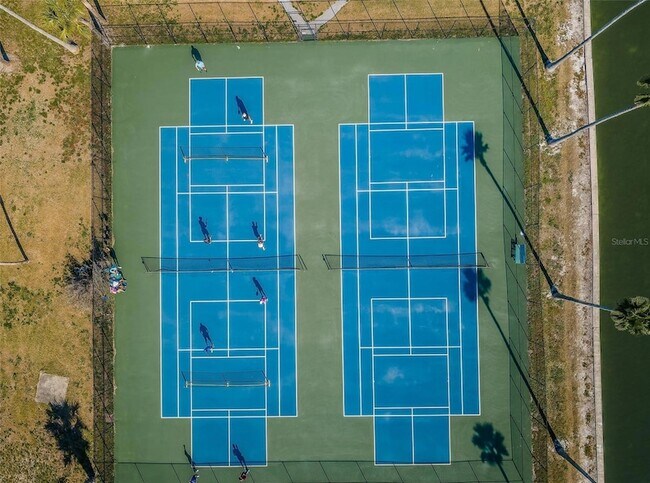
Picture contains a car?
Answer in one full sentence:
No, the scene contains no car.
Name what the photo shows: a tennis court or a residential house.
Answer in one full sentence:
There is a tennis court in the scene.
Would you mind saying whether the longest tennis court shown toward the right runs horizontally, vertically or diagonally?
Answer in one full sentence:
From this overhead view, the longest tennis court shown toward the right appears to run vertically.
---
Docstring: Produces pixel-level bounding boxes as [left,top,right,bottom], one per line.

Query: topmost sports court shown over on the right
[368,74,447,239]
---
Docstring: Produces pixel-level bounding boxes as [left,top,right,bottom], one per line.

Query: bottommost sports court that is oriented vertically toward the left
[190,300,268,467]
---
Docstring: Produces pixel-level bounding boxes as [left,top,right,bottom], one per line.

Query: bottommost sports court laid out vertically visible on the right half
[372,298,451,466]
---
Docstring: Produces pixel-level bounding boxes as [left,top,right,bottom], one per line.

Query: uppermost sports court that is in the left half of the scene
[189,77,265,242]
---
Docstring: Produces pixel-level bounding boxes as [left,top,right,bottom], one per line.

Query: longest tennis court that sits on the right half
[339,121,481,416]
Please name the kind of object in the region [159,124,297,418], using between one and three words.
tennis court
